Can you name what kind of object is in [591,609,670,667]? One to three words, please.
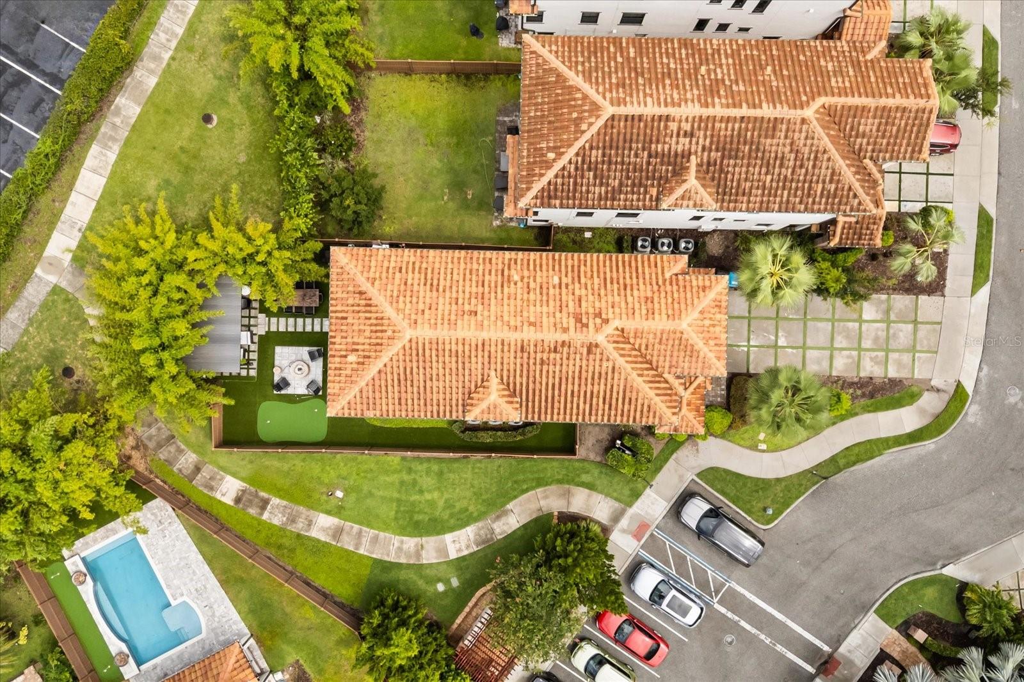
car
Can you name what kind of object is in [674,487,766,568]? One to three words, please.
car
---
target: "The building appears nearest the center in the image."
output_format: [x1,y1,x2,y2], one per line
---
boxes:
[320,244,729,437]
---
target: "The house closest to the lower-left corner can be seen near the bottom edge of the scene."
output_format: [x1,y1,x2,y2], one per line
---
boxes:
[164,641,261,682]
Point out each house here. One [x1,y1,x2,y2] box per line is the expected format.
[320,244,729,437]
[503,31,945,250]
[164,641,261,682]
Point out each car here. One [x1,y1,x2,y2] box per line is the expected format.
[674,487,766,568]
[624,556,706,630]
[535,660,584,682]
[591,609,670,667]
[565,629,643,682]
[931,121,962,159]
